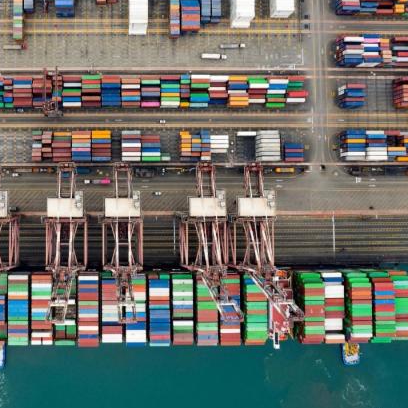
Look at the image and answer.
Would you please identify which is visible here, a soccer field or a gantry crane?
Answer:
gantry crane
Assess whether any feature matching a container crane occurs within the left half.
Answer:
Yes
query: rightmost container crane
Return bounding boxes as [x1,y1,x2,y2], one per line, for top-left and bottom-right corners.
[217,159,305,323]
